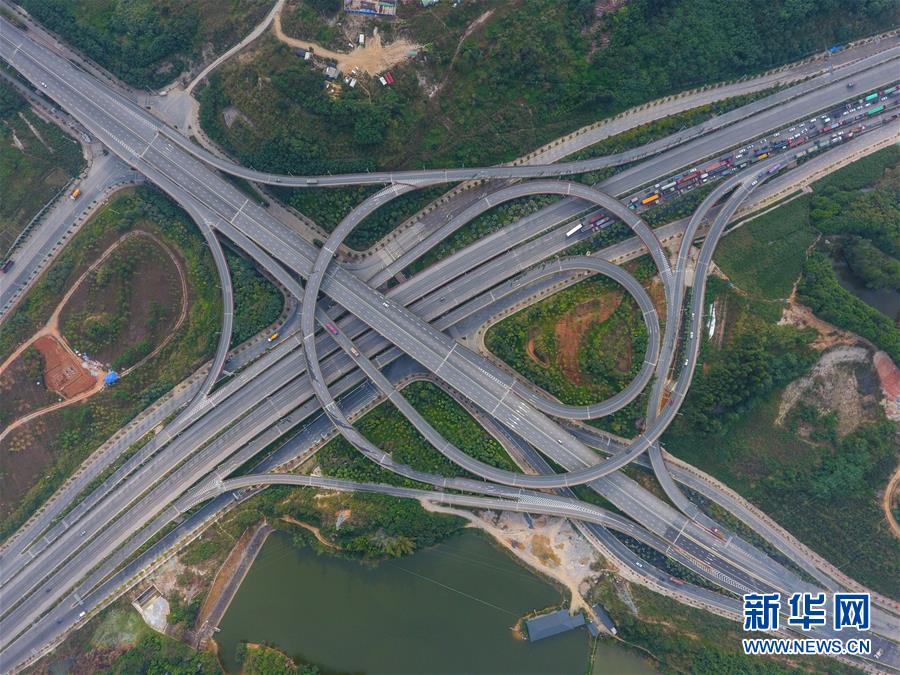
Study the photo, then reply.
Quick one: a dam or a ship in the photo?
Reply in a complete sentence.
The image shows a dam.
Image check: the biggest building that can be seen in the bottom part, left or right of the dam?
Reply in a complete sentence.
The biggest building that can be seen in the bottom part appears to the right of the dam in this view.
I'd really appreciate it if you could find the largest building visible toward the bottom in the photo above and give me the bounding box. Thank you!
[526,606,573,642]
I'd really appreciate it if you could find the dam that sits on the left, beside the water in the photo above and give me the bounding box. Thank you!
[195,520,274,642]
